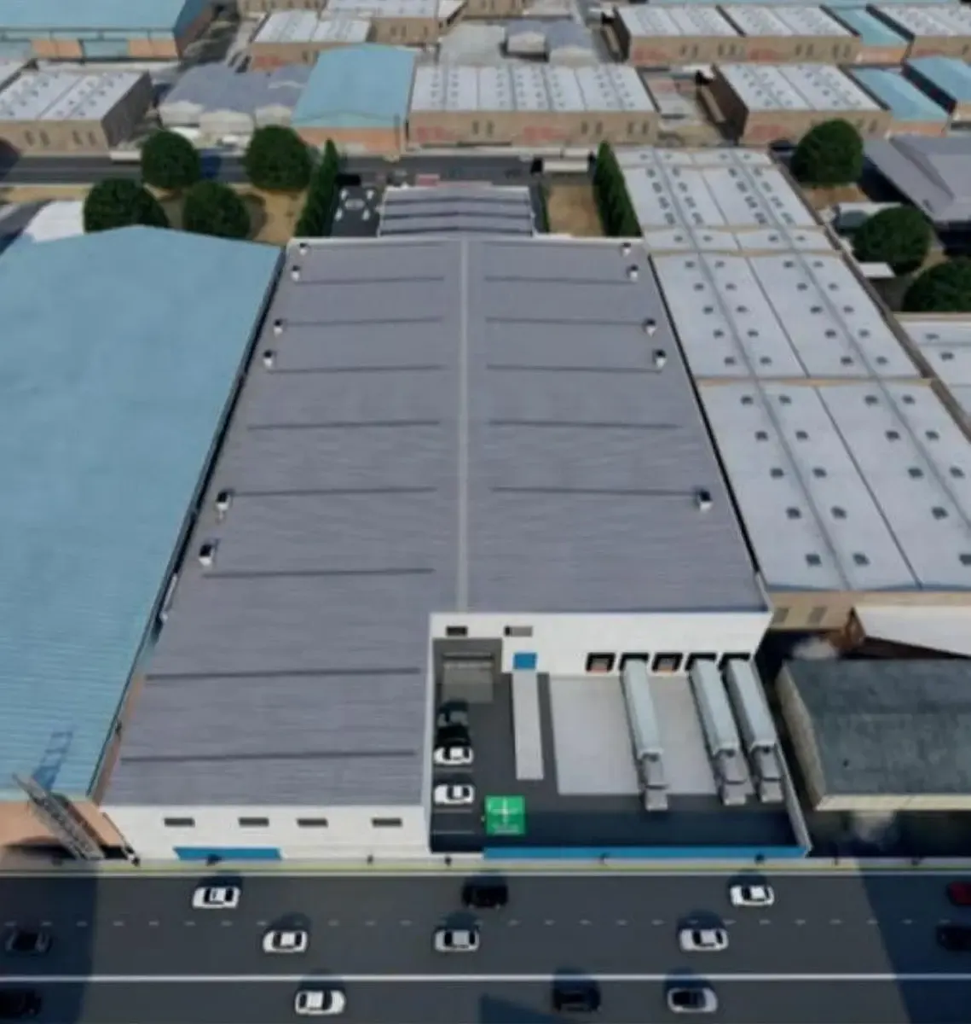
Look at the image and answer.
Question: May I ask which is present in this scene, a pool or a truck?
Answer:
truck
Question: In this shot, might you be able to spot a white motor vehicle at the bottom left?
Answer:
Yes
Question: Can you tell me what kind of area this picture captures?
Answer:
industrial area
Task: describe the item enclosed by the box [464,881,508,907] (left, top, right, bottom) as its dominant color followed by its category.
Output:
black car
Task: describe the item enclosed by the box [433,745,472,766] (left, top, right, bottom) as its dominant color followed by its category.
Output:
white car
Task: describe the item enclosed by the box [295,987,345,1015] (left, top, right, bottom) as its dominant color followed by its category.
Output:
white car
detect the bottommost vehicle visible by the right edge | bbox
[934,923,971,950]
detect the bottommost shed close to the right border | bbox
[772,653,971,810]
